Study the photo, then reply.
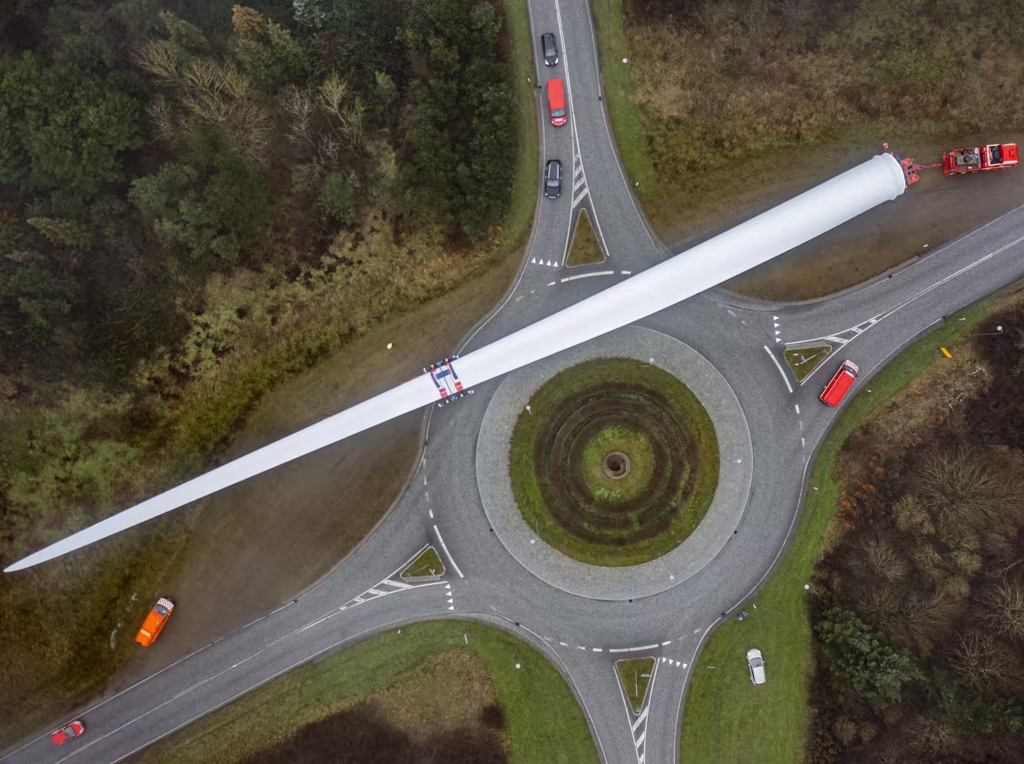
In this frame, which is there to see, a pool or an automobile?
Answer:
automobile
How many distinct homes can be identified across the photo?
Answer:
0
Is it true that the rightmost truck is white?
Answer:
No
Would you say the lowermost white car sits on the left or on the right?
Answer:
right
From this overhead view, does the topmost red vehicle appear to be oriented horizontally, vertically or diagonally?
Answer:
vertically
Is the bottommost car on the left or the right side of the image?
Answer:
left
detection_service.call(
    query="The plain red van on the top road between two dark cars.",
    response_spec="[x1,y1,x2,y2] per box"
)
[547,81,568,127]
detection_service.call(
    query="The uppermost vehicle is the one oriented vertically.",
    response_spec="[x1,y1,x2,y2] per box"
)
[541,31,559,68]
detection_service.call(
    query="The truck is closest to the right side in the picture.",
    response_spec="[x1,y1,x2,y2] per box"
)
[937,142,1022,178]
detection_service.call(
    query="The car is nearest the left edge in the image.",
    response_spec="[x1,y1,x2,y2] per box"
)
[49,719,87,748]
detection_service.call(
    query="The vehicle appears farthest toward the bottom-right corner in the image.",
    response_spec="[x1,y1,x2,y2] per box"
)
[745,647,767,686]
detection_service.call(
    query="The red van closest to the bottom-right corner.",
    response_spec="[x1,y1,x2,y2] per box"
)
[820,359,859,407]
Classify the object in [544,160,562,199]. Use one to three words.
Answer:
car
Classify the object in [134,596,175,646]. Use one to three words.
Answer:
van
